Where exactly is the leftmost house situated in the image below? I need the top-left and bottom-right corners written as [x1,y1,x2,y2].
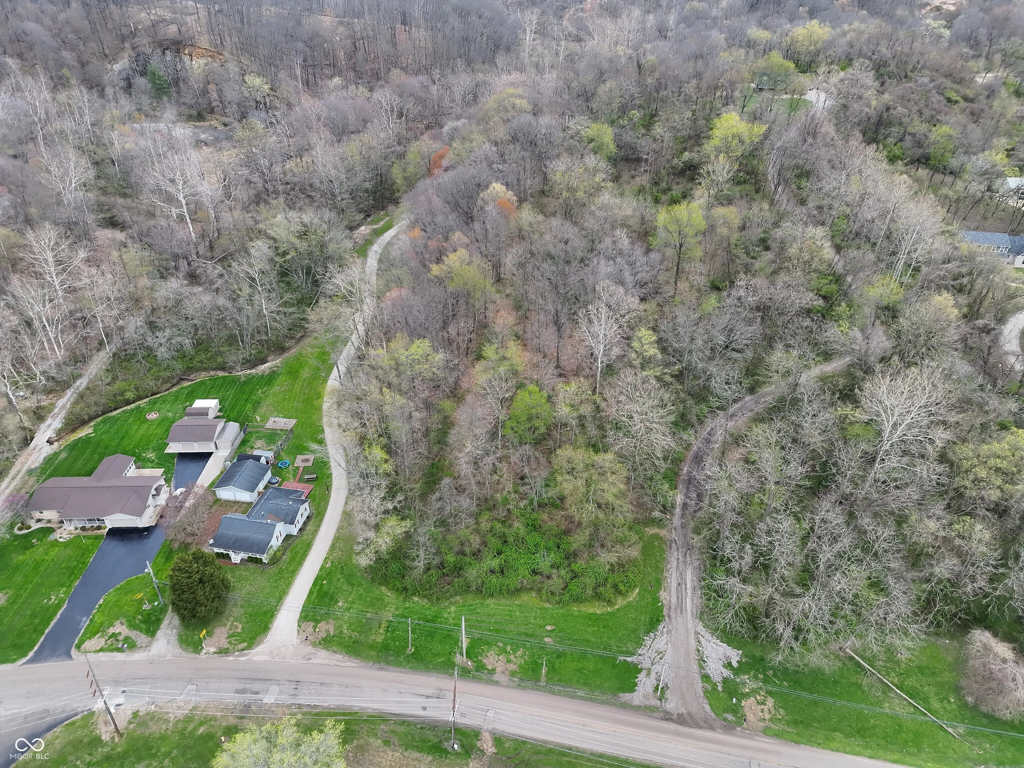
[28,452,172,532]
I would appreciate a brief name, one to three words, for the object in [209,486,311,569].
house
